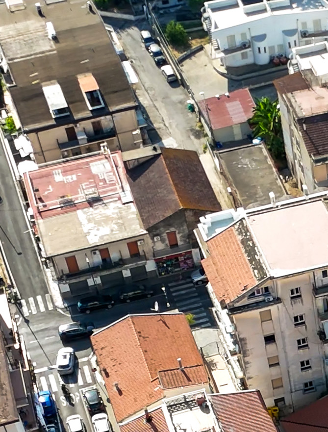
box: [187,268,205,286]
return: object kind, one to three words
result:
car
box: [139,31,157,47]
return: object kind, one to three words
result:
car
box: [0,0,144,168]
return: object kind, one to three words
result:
building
